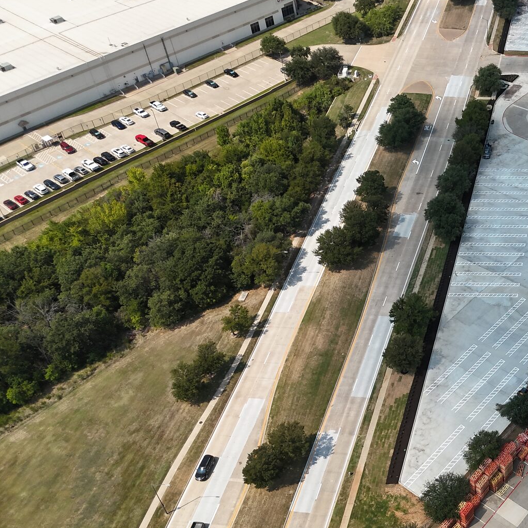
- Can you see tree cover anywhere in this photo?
Yes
